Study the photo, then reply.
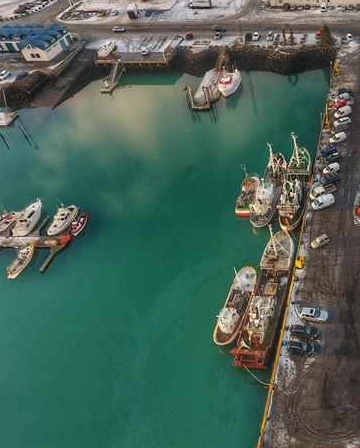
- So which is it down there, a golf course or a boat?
boat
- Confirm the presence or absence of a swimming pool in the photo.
No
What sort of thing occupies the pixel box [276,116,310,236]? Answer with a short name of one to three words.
boat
